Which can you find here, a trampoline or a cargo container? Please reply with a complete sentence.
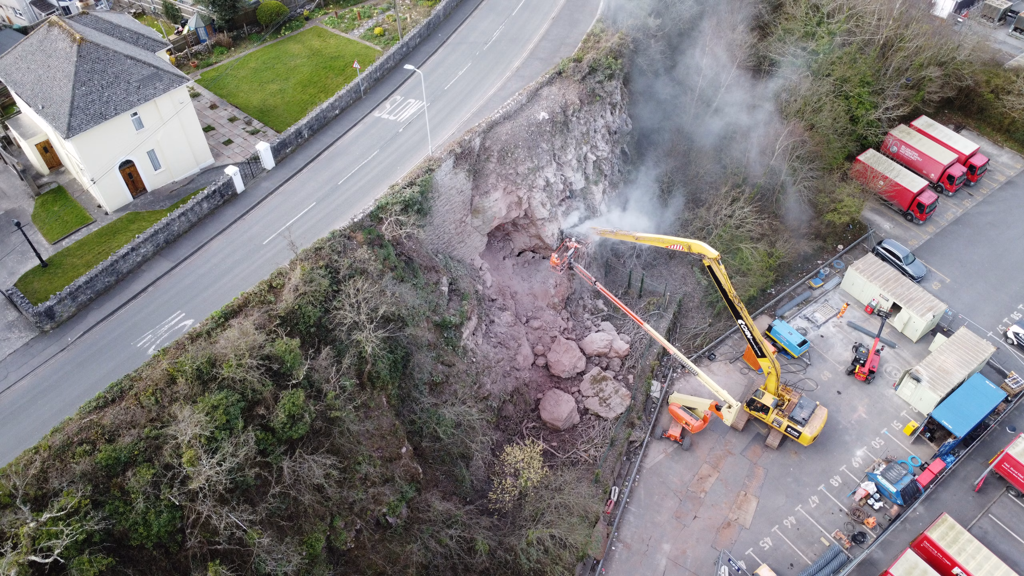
This aerial view contains a cargo container.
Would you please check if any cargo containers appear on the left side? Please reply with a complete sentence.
No, looking on the left side, there is no cargo container.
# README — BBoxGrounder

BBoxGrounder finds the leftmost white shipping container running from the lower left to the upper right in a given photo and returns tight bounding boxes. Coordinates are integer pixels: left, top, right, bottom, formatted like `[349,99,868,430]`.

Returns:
[885,325,997,414]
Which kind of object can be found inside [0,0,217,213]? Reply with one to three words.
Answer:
house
